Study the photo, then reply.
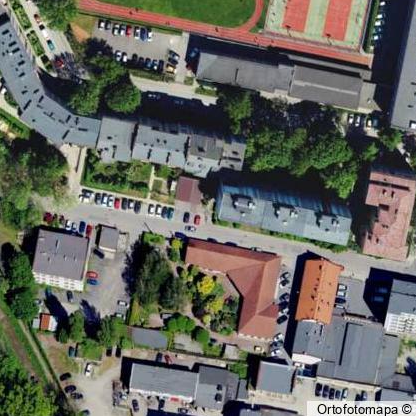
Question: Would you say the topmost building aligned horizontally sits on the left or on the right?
right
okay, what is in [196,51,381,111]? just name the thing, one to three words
building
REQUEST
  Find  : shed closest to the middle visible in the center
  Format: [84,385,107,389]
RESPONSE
[174,175,202,204]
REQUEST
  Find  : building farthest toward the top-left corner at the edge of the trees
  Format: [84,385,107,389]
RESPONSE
[98,116,138,166]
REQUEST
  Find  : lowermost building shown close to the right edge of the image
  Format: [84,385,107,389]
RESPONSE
[377,391,416,416]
